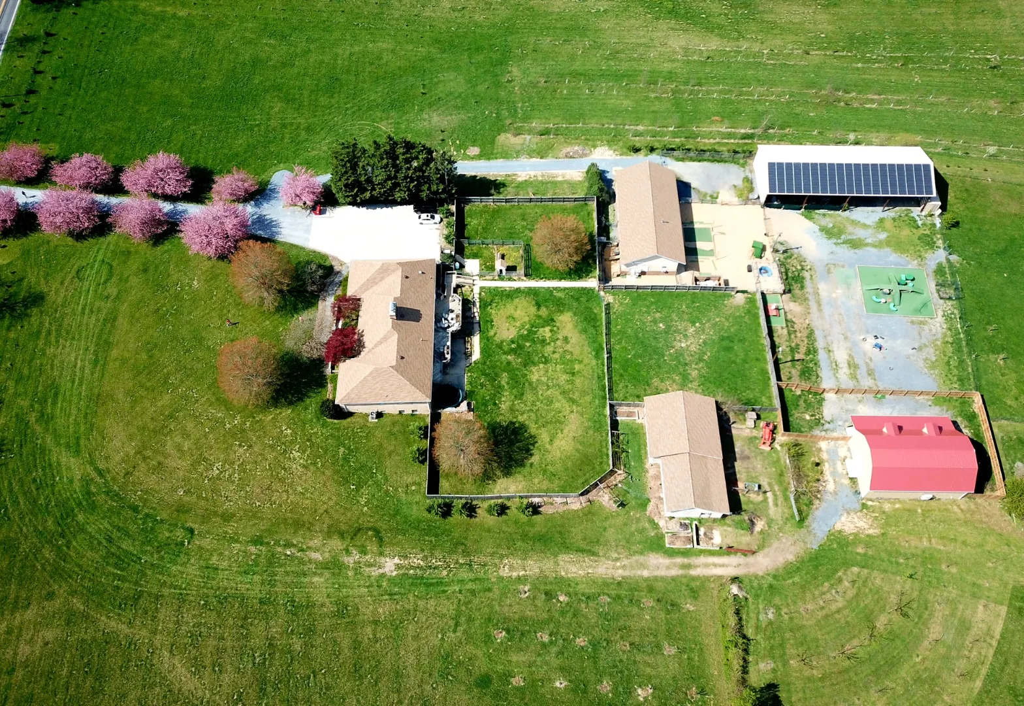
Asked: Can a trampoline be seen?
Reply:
Yes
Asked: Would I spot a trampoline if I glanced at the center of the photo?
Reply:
Yes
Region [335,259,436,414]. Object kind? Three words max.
house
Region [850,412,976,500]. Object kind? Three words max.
barn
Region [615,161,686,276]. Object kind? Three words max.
barn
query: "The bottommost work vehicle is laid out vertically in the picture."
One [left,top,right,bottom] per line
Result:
[763,420,778,449]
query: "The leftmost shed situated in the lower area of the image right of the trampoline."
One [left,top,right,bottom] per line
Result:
[643,390,730,519]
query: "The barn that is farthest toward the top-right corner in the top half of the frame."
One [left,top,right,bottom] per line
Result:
[756,145,936,207]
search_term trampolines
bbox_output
[432,381,459,407]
